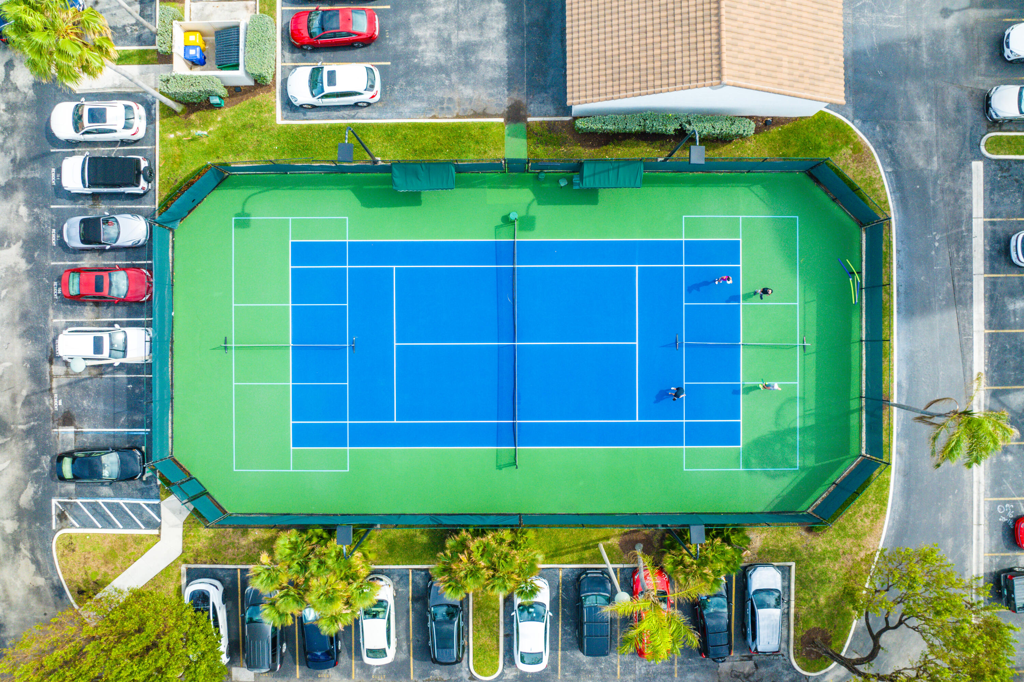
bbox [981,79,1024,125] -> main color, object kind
white car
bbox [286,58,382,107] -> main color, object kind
white car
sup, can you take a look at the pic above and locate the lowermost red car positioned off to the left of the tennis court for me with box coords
[58,263,154,306]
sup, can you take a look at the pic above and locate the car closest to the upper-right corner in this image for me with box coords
[999,23,1024,64]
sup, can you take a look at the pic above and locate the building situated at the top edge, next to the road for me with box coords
[566,0,847,116]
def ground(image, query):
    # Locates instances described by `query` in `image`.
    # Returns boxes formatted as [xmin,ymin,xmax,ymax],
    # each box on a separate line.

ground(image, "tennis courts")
[173,171,862,513]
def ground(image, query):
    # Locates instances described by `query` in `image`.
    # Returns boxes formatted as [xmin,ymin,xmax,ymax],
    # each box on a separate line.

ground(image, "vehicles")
[693,593,737,670]
[981,79,1024,125]
[999,23,1024,64]
[509,578,552,674]
[53,444,149,487]
[286,58,382,107]
[997,568,1024,612]
[62,210,152,253]
[740,562,788,658]
[1005,231,1024,268]
[52,322,154,367]
[302,609,343,673]
[423,581,467,670]
[238,583,287,680]
[58,263,154,306]
[359,573,397,668]
[59,151,151,196]
[50,96,149,143]
[1010,512,1024,549]
[289,3,381,51]
[574,569,615,661]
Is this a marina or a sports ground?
sports ground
